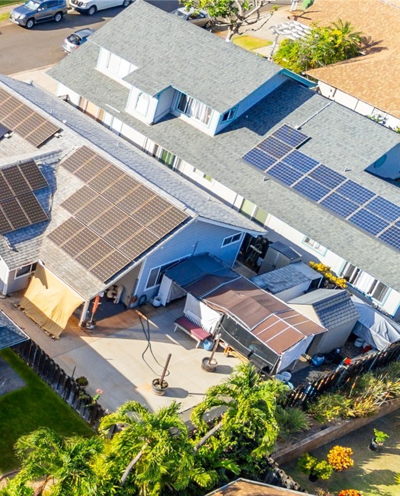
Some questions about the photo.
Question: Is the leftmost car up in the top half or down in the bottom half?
top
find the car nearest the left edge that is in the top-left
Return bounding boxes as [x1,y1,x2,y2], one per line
[7,0,70,29]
